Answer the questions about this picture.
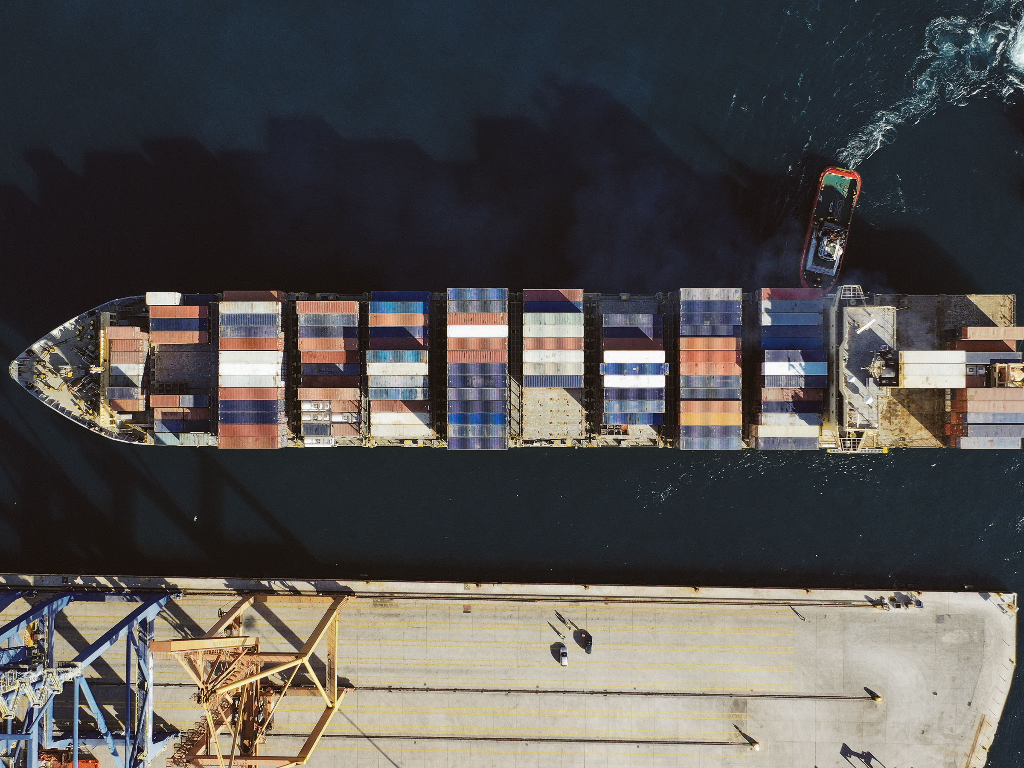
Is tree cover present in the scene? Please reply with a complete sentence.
No, there's no tree cover in this view.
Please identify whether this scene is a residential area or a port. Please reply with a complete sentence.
This image shows a port.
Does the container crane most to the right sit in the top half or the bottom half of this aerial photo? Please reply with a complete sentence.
The container crane most to the right sits in the bottom half of the picture.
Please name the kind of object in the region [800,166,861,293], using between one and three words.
boat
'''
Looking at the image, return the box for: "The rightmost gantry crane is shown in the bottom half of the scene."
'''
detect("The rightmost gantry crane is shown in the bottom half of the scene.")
[139,594,379,768]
